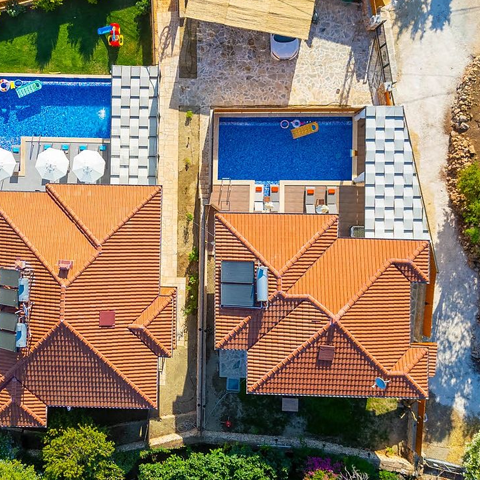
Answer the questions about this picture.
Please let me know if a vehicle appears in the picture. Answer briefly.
Yes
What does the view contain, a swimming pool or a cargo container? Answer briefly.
swimming pool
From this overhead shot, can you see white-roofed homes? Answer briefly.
No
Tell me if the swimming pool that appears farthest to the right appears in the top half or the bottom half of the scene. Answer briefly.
top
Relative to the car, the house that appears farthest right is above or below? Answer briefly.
below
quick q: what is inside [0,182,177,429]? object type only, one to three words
house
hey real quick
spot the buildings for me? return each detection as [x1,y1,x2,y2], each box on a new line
[213,213,439,400]
[0,182,177,429]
